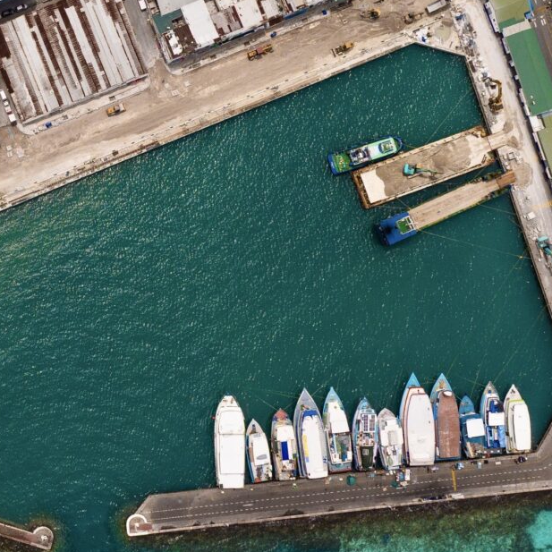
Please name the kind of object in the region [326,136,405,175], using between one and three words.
boat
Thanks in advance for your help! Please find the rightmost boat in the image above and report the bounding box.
[501,384,534,454]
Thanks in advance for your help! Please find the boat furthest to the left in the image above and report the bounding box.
[212,391,246,489]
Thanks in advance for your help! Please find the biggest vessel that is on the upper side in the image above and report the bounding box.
[350,124,520,208]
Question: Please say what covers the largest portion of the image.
water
